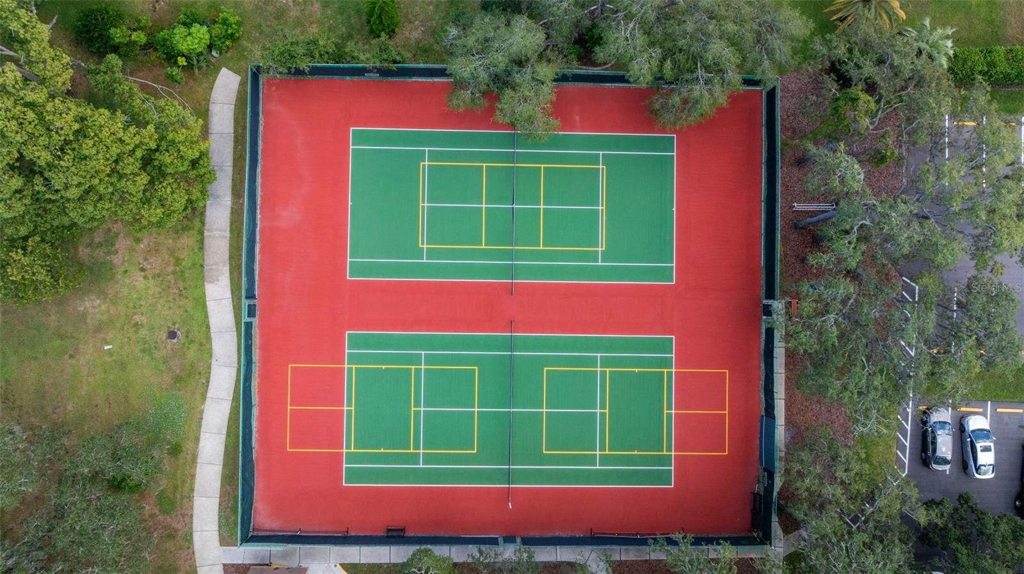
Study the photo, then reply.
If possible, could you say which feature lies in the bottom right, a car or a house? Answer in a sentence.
Visible in the bottom right is a car.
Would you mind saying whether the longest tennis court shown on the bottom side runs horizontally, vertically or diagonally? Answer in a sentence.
The longest tennis court shown on the bottom side has been laid out horizontally relative to the frame.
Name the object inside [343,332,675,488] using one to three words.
tennis court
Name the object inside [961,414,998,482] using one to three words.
car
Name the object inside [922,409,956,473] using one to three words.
car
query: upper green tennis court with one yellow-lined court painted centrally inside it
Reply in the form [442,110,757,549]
[347,127,676,284]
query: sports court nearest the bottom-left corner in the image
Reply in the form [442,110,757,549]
[287,365,477,452]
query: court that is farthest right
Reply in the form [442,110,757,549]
[543,368,728,454]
